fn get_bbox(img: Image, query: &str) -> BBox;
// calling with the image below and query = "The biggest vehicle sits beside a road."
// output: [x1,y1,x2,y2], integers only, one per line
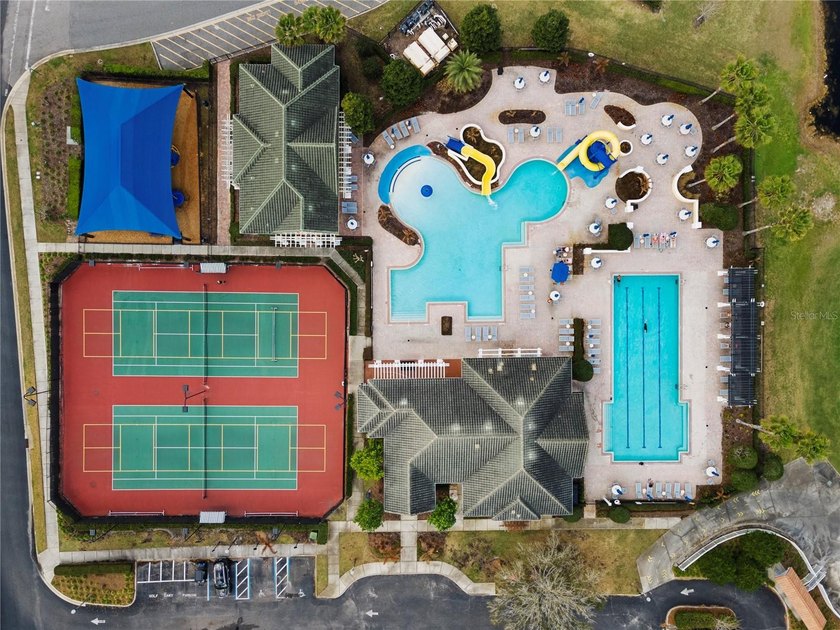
[212,560,231,597]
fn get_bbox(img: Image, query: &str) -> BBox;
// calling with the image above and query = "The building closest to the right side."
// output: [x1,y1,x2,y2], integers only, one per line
[762,548,834,630]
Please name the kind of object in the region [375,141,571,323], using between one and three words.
swimming pool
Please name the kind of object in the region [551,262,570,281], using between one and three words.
umbrella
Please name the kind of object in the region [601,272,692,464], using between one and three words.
swimming pool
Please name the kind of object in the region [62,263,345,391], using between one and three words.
tennis court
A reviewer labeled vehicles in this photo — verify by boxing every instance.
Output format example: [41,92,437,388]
[194,562,209,585]
[212,560,231,597]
